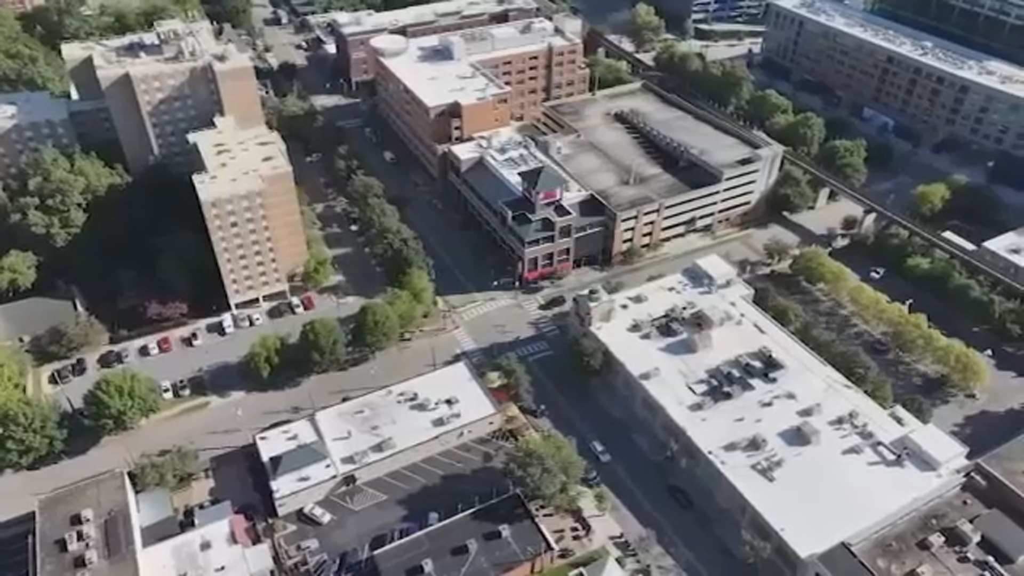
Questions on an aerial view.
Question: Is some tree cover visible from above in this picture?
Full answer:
Yes, tree cover shows up in the scene.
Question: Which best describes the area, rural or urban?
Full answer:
From above, the setting appears urban.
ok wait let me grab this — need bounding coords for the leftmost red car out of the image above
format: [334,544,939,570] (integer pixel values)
[158,335,171,354]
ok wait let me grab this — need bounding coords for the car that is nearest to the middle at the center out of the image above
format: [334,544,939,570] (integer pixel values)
[540,294,564,311]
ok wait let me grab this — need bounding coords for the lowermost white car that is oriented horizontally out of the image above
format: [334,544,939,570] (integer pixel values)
[299,506,334,524]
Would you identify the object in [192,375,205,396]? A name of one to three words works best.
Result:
vehicle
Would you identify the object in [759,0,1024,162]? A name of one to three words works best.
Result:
building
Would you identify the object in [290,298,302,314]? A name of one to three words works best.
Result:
vehicle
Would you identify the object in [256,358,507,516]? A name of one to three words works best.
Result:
building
